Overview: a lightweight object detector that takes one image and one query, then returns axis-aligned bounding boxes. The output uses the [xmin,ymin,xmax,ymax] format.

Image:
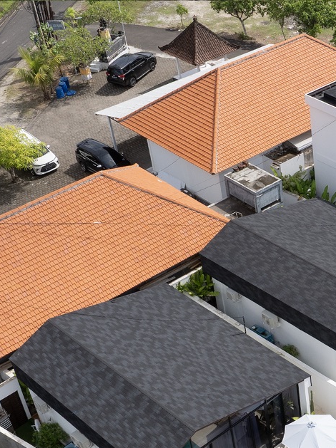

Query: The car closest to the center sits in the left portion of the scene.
[75,135,133,179]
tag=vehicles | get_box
[75,135,133,179]
[11,127,59,177]
[105,51,156,86]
